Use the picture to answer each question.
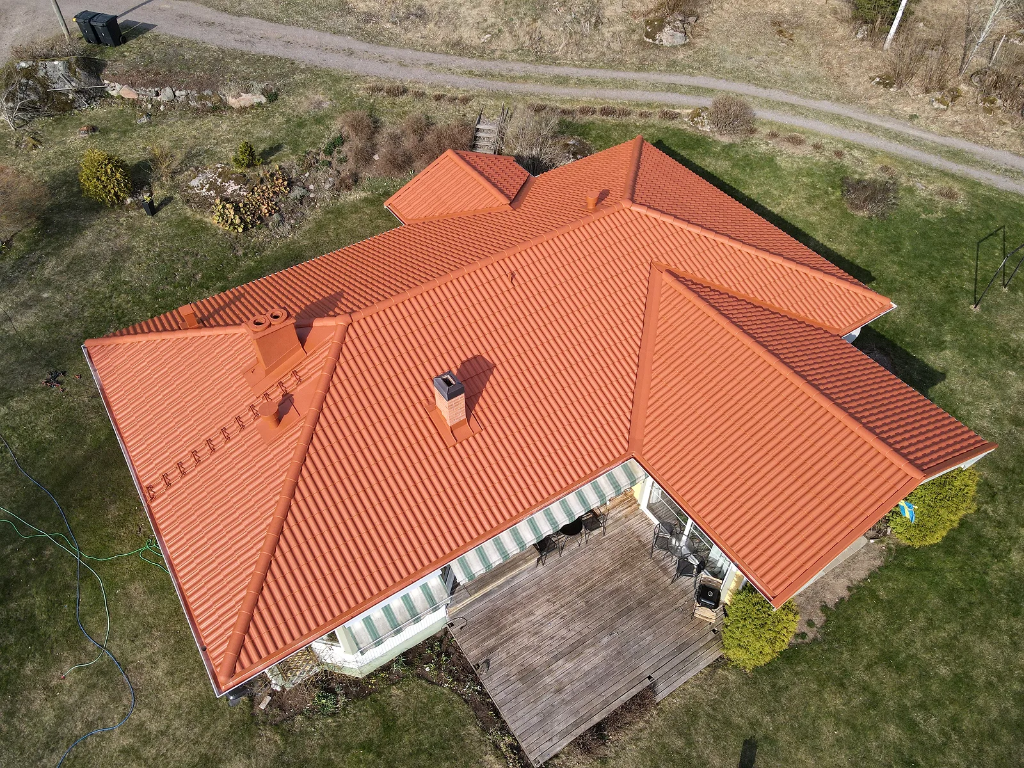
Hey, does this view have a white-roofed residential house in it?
No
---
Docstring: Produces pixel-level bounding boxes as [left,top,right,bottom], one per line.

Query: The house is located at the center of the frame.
[81,134,999,697]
